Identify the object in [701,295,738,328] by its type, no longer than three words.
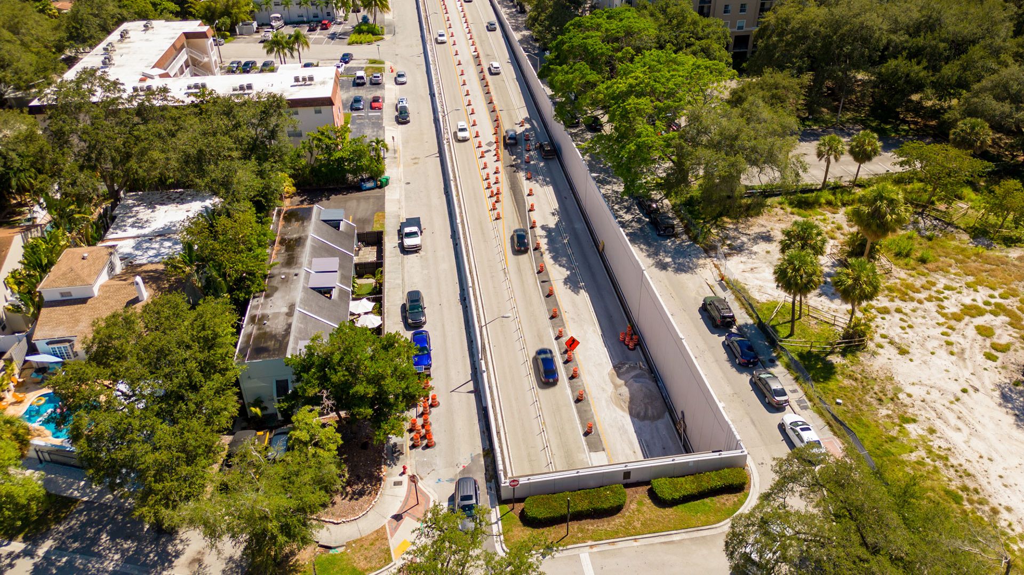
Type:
car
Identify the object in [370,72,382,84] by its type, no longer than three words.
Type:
vehicle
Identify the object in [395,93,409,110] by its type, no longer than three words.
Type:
vehicle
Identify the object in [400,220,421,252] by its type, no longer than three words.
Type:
truck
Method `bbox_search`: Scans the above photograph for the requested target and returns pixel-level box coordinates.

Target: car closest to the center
[511,229,531,254]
